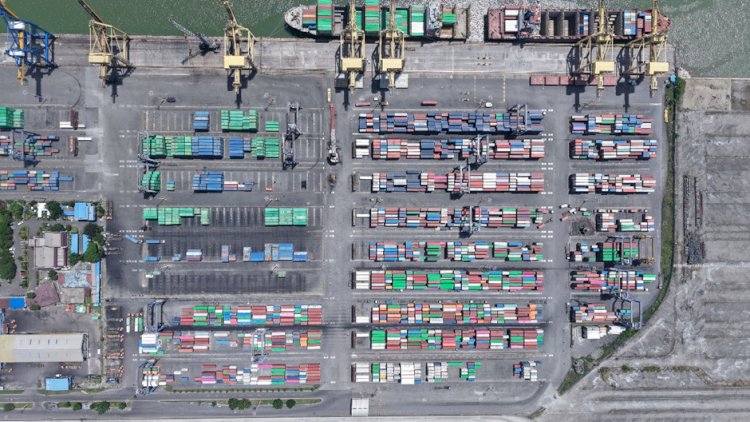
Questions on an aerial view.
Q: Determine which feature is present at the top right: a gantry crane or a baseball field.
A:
gantry crane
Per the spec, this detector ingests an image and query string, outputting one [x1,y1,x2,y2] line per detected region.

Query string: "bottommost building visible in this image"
[351,396,368,416]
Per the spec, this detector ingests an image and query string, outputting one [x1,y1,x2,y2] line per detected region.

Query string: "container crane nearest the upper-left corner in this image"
[0,1,59,88]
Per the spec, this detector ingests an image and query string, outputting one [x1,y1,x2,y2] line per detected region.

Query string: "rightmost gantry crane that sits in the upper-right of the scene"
[620,0,669,98]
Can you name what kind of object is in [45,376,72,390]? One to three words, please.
shed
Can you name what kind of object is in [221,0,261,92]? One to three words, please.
container crane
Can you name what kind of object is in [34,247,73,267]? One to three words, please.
building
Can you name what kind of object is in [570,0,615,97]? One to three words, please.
container crane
